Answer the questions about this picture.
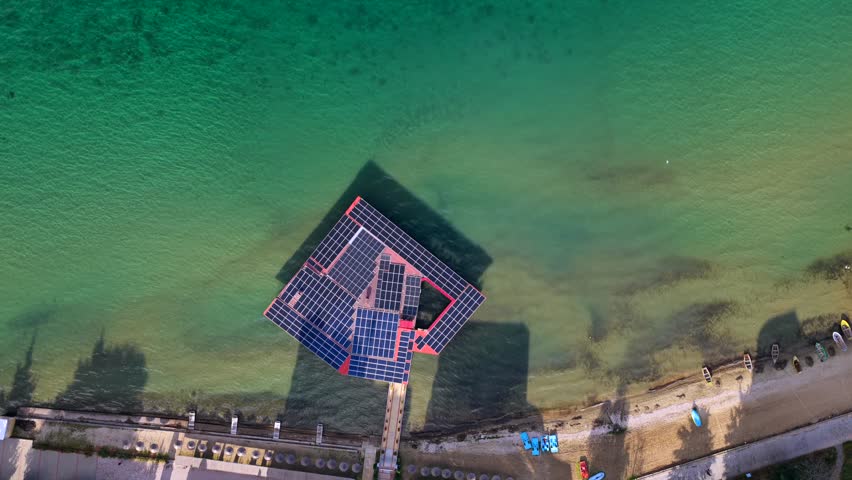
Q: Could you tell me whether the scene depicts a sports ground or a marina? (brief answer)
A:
marina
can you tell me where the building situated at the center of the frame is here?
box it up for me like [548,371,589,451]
[264,196,486,384]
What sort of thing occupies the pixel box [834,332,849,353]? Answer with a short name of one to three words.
boat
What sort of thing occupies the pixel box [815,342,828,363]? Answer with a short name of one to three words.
boat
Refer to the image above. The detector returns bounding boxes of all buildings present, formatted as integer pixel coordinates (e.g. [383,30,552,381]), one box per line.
[0,416,18,440]
[264,196,486,384]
